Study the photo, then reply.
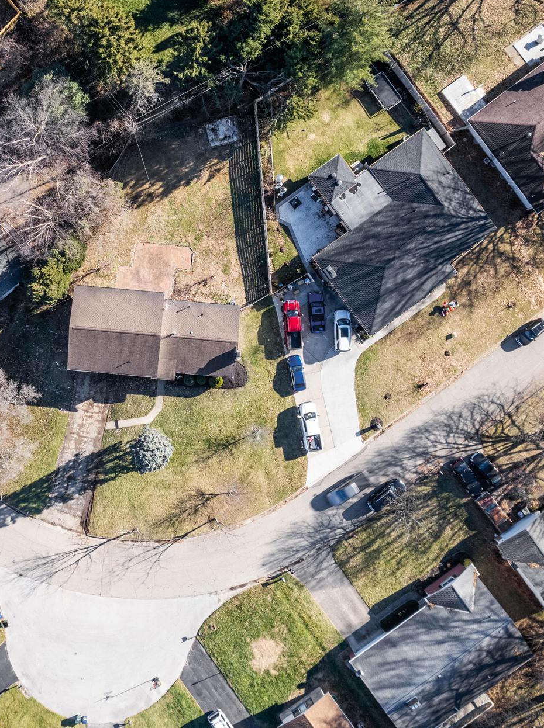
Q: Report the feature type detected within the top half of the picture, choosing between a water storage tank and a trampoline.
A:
trampoline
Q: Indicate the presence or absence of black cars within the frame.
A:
Yes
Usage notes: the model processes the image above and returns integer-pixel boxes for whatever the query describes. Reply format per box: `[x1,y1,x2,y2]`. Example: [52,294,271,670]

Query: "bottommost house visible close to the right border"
[349,559,533,728]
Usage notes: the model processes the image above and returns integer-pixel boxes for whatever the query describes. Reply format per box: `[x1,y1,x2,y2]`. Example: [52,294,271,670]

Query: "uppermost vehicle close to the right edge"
[510,316,544,349]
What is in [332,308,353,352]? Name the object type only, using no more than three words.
car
